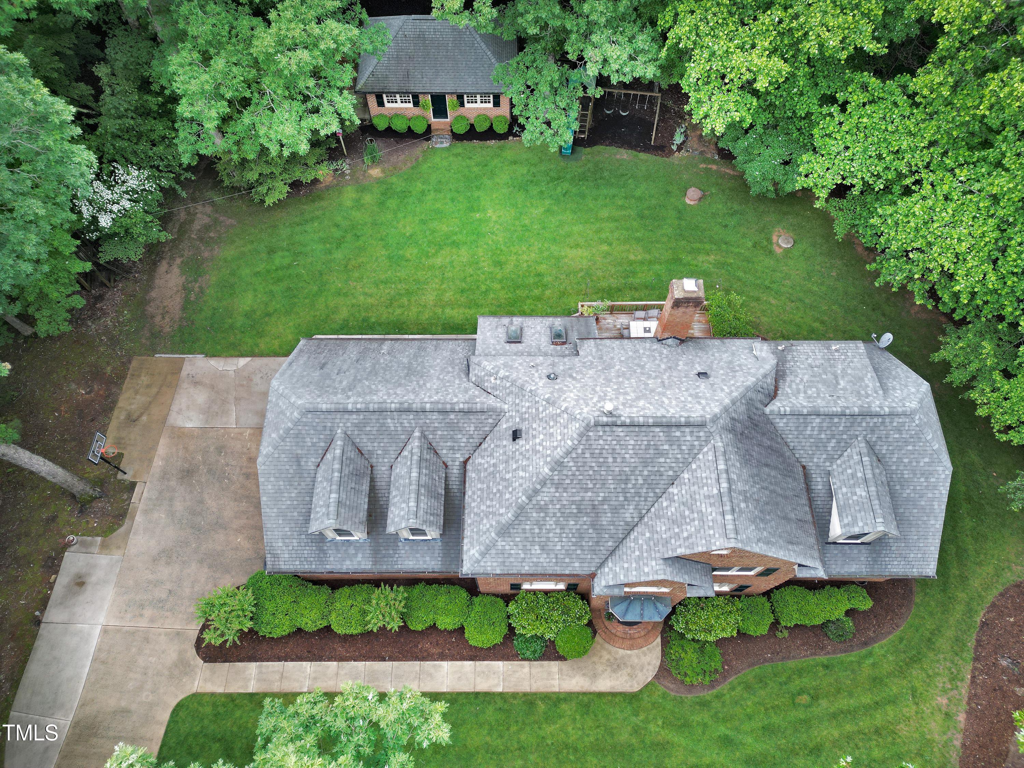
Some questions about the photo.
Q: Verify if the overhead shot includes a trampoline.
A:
No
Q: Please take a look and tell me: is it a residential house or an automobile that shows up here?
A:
residential house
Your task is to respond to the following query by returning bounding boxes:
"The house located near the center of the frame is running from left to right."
[255,277,951,622]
